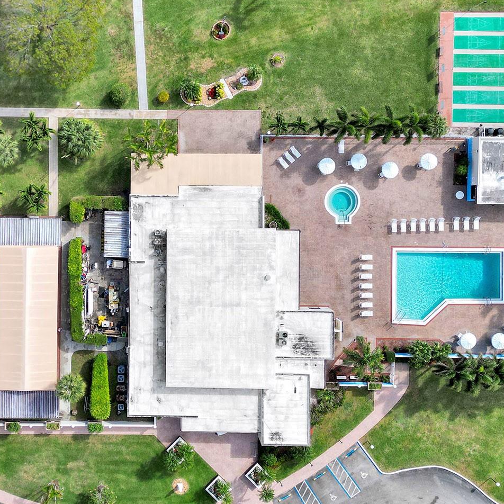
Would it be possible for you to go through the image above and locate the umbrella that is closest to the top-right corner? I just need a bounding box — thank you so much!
[419,154,437,170]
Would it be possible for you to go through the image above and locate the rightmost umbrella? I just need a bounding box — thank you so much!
[490,332,504,349]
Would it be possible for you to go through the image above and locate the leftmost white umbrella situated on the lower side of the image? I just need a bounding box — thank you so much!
[458,332,475,349]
